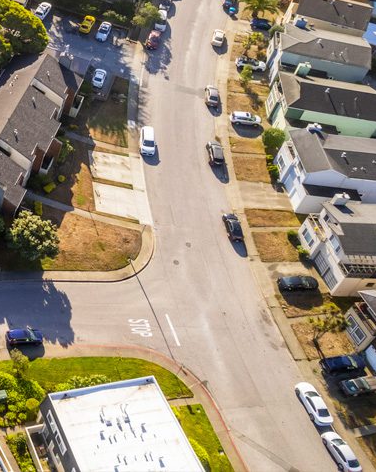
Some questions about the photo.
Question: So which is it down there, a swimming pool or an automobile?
automobile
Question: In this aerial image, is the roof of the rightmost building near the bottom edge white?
Yes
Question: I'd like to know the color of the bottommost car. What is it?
white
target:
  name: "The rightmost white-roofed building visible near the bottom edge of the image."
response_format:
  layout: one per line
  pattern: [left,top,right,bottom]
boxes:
[41,376,198,472]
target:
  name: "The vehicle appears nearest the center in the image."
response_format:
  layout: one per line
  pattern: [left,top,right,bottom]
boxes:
[221,213,246,243]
